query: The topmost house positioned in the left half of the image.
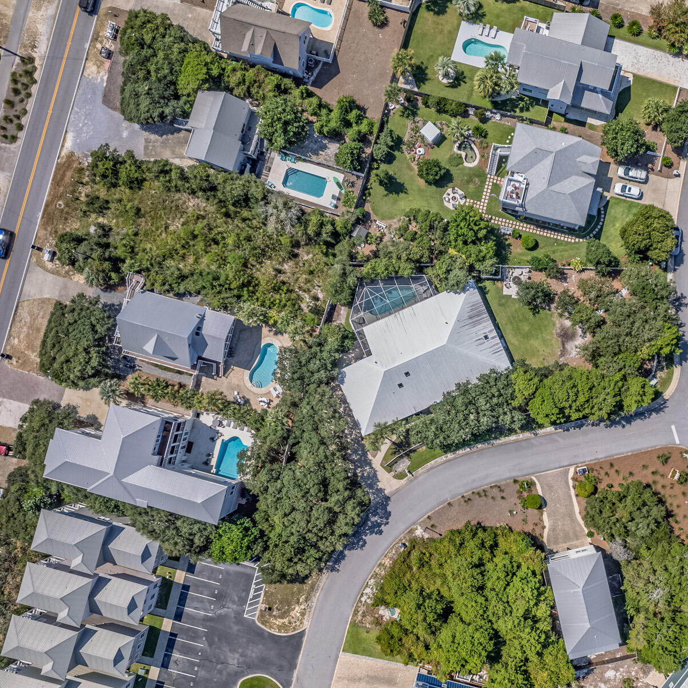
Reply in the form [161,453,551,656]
[209,0,316,77]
